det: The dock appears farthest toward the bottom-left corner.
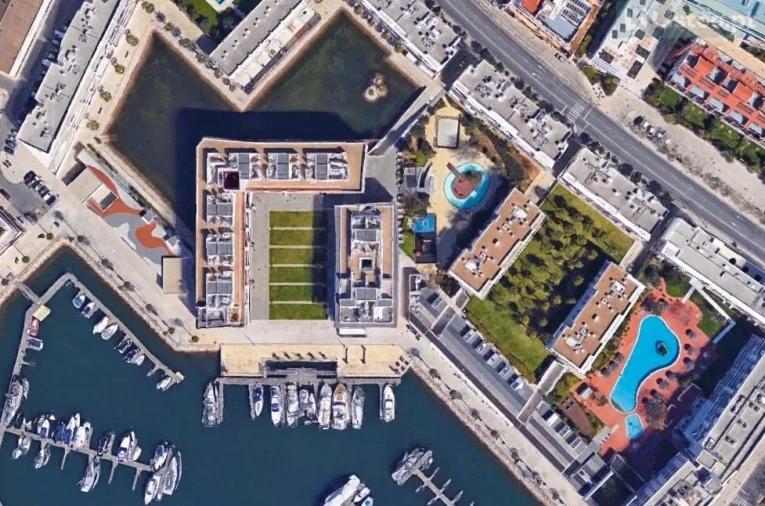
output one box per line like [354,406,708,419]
[2,424,174,498]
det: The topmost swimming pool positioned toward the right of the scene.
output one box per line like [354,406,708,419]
[443,161,491,210]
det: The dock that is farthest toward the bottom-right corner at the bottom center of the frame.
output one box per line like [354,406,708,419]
[397,448,474,506]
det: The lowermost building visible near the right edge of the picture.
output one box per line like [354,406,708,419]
[624,442,727,506]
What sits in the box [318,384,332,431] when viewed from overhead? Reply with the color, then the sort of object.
white boat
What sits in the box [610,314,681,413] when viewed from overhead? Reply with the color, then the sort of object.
blue swimming pool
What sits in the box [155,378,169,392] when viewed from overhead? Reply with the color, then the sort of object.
white boat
